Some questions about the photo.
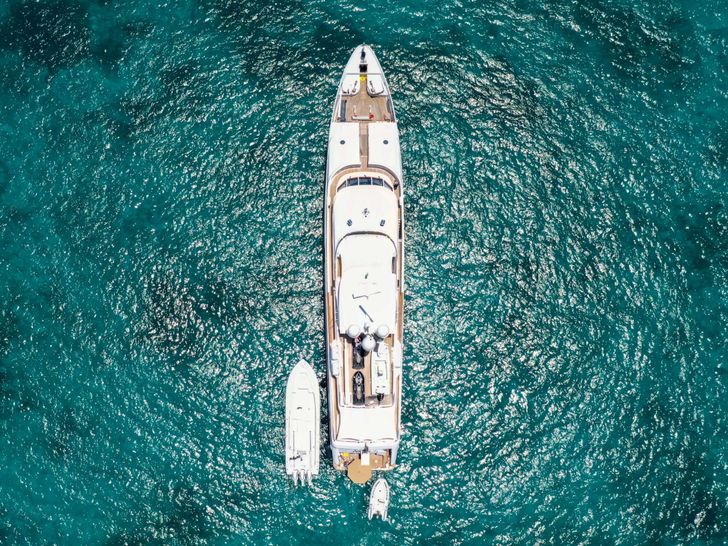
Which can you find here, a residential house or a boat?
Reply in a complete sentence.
Of the two, only a boat appears.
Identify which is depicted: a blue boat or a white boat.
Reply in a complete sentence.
The image shows a white boat.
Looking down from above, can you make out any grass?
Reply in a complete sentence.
No, the picture contains no grass.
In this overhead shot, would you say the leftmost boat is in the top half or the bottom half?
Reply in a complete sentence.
You can find the leftmost boat in the bottom half.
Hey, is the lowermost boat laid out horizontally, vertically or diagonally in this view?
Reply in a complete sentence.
The lowermost boat runs vertically in the image.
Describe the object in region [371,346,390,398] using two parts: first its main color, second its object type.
white boat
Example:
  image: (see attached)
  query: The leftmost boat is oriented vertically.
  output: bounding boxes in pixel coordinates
[285,358,319,487]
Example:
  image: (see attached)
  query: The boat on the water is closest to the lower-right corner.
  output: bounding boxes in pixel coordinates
[368,478,388,520]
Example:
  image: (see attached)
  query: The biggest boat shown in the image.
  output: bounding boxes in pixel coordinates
[324,42,404,468]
